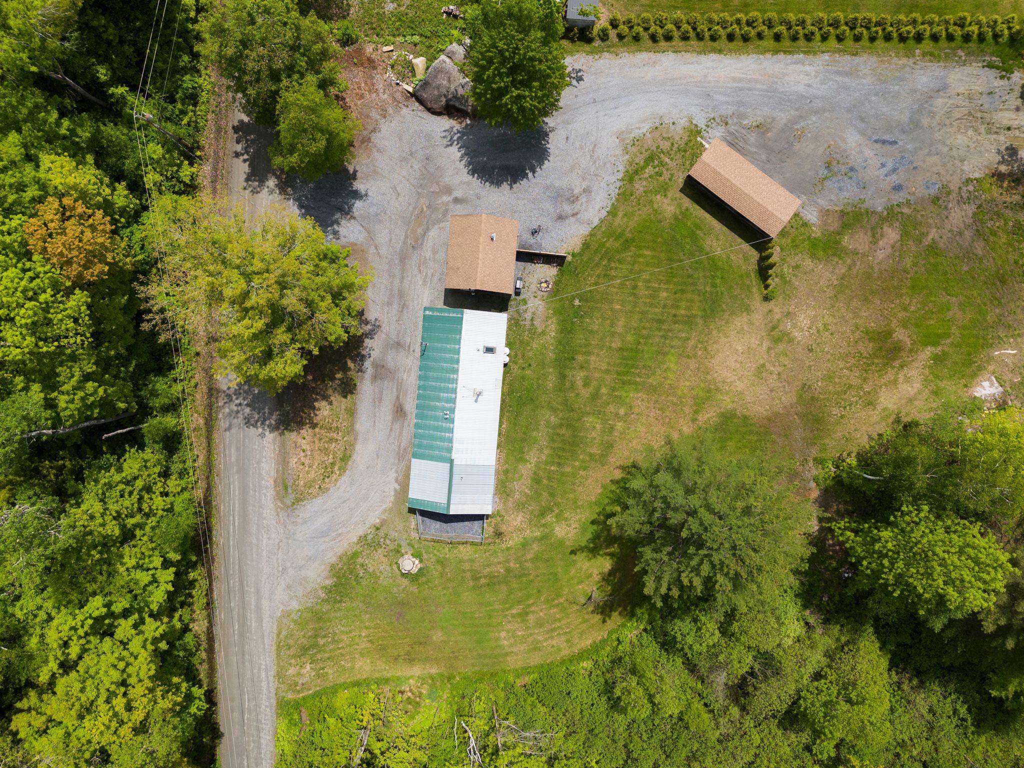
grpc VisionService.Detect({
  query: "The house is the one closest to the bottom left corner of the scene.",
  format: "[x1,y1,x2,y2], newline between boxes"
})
[409,307,507,514]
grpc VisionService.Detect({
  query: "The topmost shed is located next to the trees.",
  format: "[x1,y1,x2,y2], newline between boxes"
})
[566,0,600,28]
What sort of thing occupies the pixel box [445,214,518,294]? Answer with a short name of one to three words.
building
